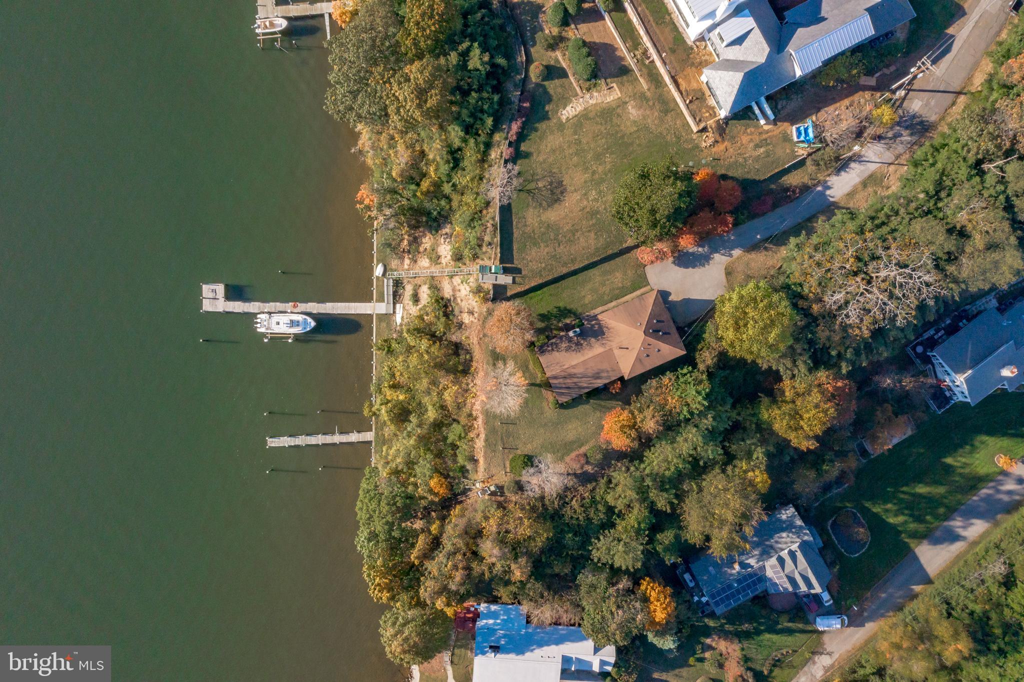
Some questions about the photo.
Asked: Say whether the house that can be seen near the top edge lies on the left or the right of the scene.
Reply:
right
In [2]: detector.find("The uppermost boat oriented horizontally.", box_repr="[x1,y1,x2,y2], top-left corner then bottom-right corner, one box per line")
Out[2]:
[249,18,287,33]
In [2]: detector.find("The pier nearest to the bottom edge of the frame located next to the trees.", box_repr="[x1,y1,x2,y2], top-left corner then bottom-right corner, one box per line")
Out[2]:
[267,426,373,447]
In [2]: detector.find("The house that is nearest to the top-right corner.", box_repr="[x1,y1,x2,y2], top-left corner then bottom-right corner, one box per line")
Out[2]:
[680,0,917,119]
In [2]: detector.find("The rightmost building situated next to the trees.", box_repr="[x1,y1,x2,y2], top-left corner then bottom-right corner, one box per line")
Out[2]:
[900,289,1024,414]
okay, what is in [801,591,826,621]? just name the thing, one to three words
car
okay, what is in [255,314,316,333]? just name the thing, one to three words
boat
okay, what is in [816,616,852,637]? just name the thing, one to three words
vehicle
